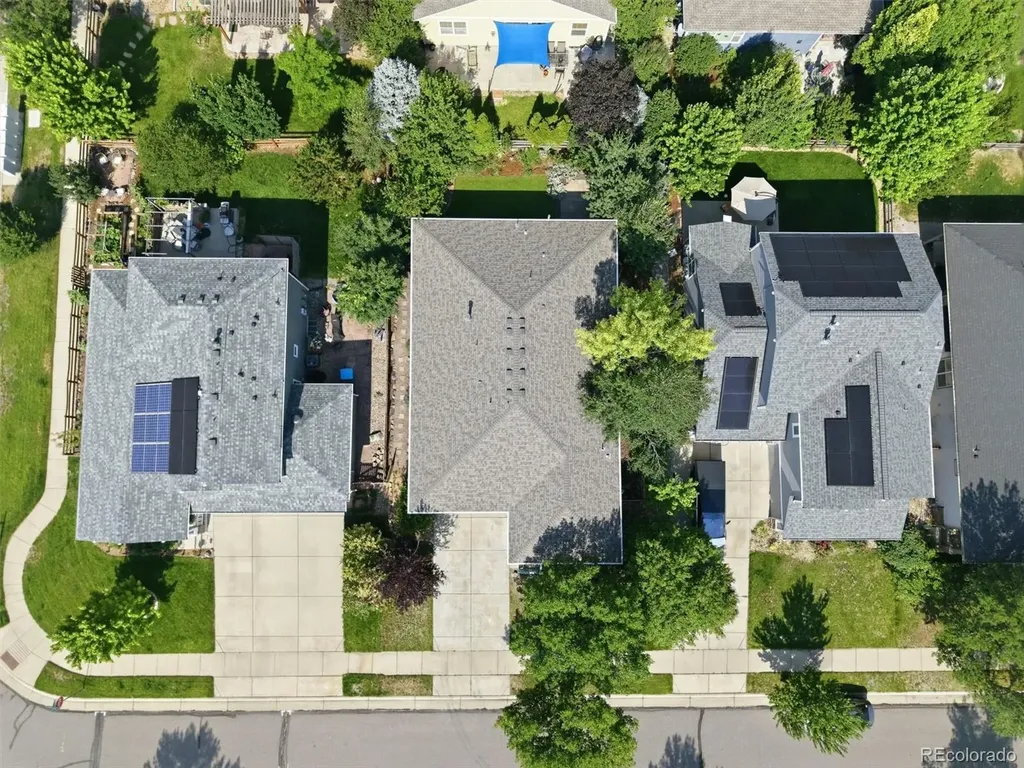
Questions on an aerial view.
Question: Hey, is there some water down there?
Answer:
No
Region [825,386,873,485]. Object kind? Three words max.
solar array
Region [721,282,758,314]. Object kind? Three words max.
solar array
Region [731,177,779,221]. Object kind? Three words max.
umbrella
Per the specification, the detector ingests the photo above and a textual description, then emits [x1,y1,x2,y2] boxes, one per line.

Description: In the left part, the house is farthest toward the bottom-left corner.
[74,256,358,544]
